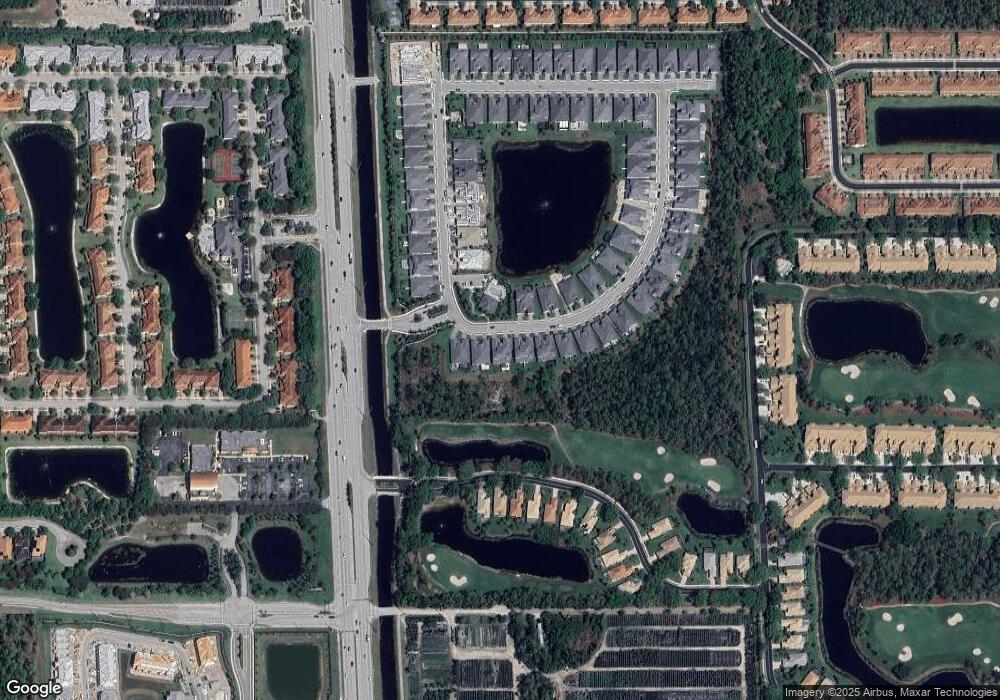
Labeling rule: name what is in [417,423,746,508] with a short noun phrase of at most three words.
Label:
golf course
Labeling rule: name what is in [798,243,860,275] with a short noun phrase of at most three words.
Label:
building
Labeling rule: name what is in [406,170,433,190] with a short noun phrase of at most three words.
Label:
house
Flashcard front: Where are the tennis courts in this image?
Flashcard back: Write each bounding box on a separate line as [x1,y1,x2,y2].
[223,306,252,336]
[213,148,243,181]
